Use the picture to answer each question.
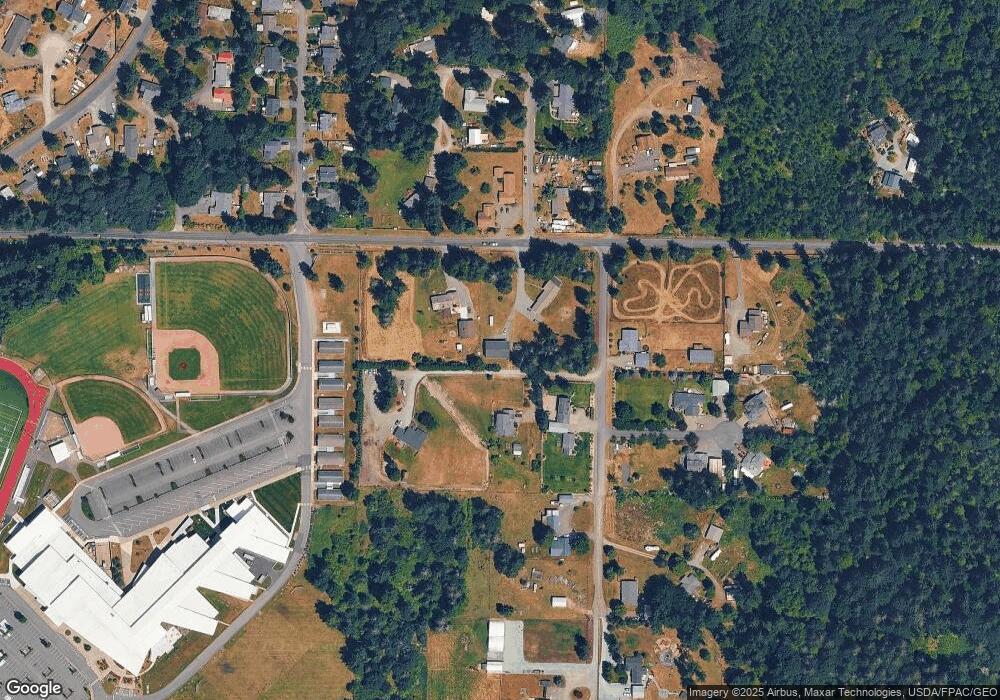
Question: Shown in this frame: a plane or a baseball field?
baseball field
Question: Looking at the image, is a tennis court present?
No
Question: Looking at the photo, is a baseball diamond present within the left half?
Yes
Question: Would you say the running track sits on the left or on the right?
left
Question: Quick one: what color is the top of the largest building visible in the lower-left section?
white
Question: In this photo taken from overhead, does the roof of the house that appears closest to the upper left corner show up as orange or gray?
gray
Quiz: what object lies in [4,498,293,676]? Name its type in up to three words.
building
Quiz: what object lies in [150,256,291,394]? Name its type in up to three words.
baseball field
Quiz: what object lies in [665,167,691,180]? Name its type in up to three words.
house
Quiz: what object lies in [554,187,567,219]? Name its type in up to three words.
house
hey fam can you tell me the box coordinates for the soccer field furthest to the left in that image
[0,369,29,490]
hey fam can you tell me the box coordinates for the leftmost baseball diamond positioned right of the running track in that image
[57,375,166,462]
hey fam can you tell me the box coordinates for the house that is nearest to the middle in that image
[485,339,508,357]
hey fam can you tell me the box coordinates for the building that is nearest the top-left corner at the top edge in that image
[0,15,30,55]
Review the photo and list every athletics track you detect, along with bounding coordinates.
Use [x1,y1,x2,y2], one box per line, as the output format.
[0,356,49,522]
